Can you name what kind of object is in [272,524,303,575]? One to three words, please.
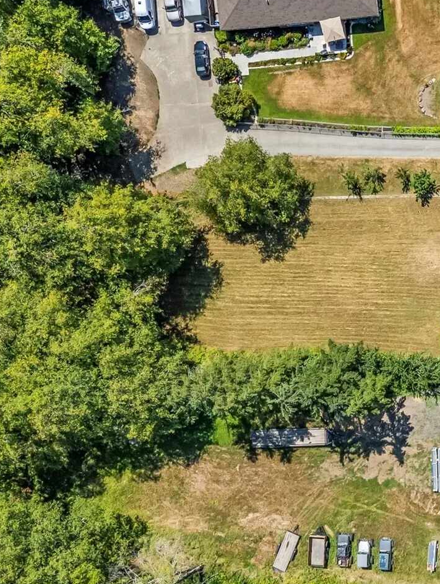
trailer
